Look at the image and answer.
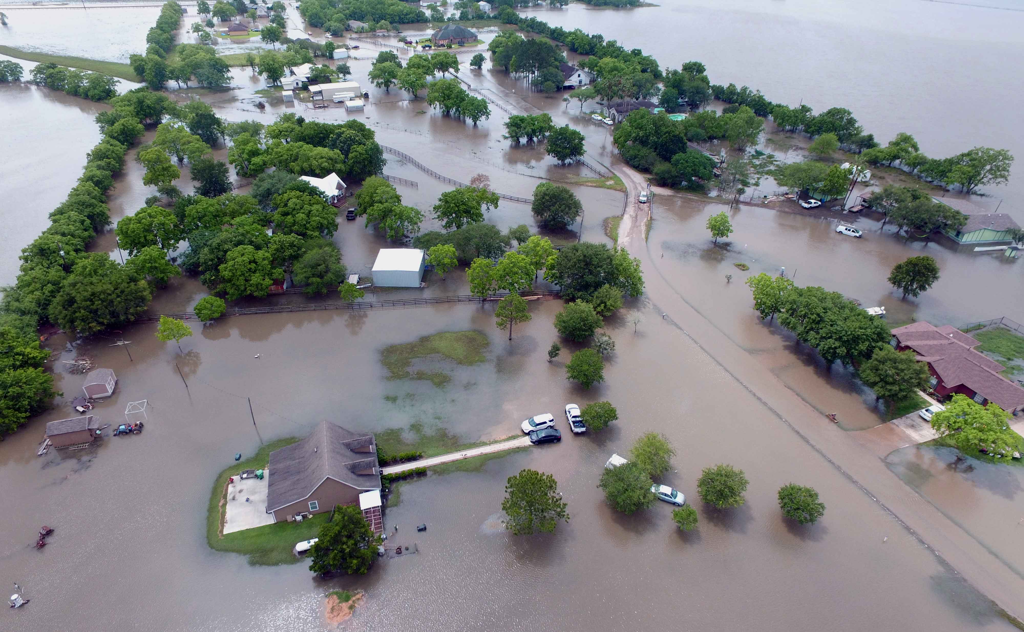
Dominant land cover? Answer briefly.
water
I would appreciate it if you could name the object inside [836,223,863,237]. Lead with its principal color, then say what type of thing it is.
white vehicle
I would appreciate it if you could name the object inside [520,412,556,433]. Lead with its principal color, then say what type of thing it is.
white car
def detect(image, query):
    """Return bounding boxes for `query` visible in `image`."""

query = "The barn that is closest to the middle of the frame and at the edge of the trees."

[371,246,428,288]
